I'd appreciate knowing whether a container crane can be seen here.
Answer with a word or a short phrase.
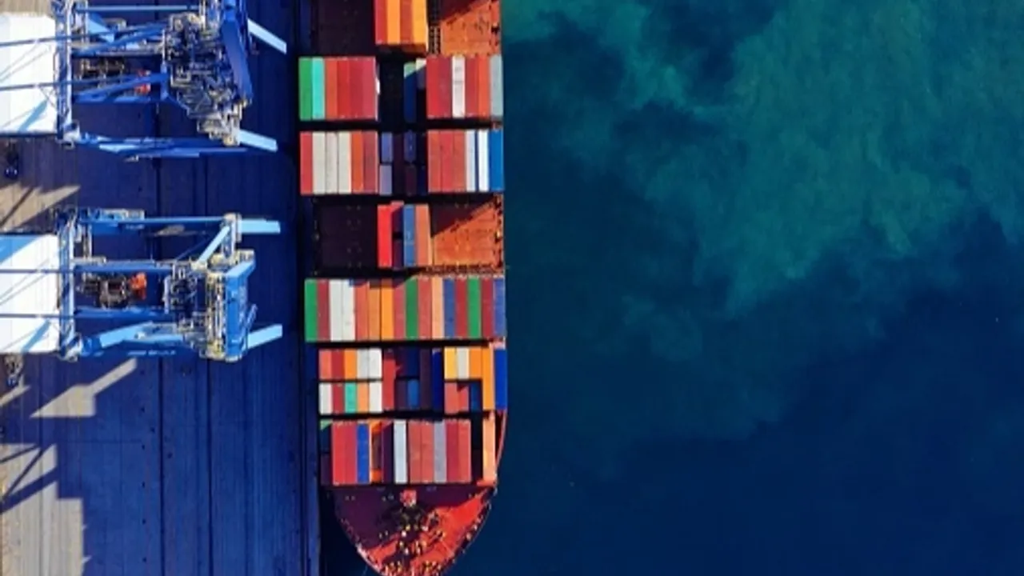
Yes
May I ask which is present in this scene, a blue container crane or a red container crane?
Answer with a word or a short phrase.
blue container crane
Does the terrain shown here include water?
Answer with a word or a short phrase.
Yes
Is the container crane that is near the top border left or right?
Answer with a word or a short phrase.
left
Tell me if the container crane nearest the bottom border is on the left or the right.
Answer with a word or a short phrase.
left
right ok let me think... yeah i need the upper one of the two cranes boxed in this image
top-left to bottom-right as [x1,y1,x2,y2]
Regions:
[0,0,302,182]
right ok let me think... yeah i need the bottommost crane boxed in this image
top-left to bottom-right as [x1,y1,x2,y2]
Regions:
[0,203,304,373]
